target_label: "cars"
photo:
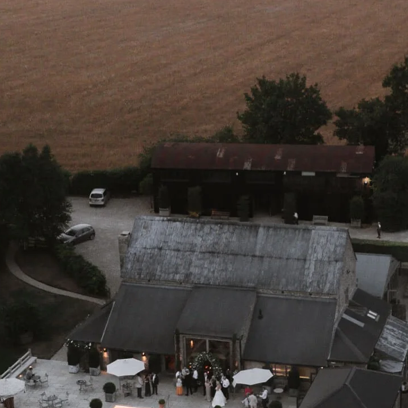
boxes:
[89,184,107,203]
[60,223,98,246]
